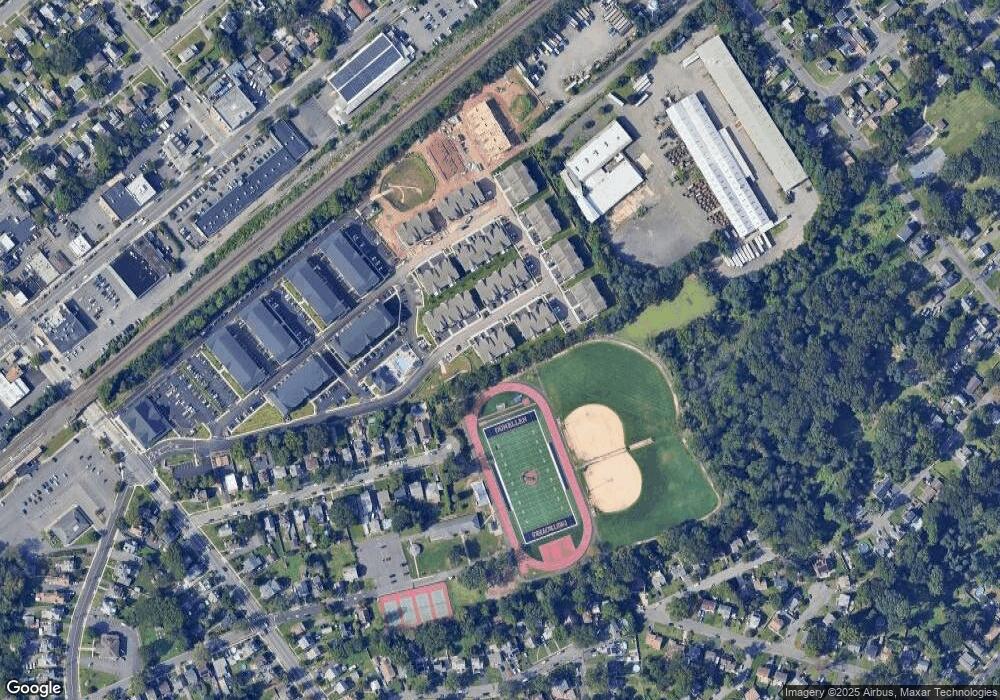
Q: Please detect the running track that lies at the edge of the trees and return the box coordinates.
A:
[465,388,594,574]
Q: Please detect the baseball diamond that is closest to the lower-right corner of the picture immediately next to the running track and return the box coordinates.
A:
[576,436,718,547]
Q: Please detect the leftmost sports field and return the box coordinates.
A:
[477,396,585,558]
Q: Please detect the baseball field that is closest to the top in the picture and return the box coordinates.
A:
[537,341,681,467]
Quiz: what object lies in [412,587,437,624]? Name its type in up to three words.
tennis court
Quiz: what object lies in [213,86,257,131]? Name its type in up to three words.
building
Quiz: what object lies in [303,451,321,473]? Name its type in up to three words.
house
